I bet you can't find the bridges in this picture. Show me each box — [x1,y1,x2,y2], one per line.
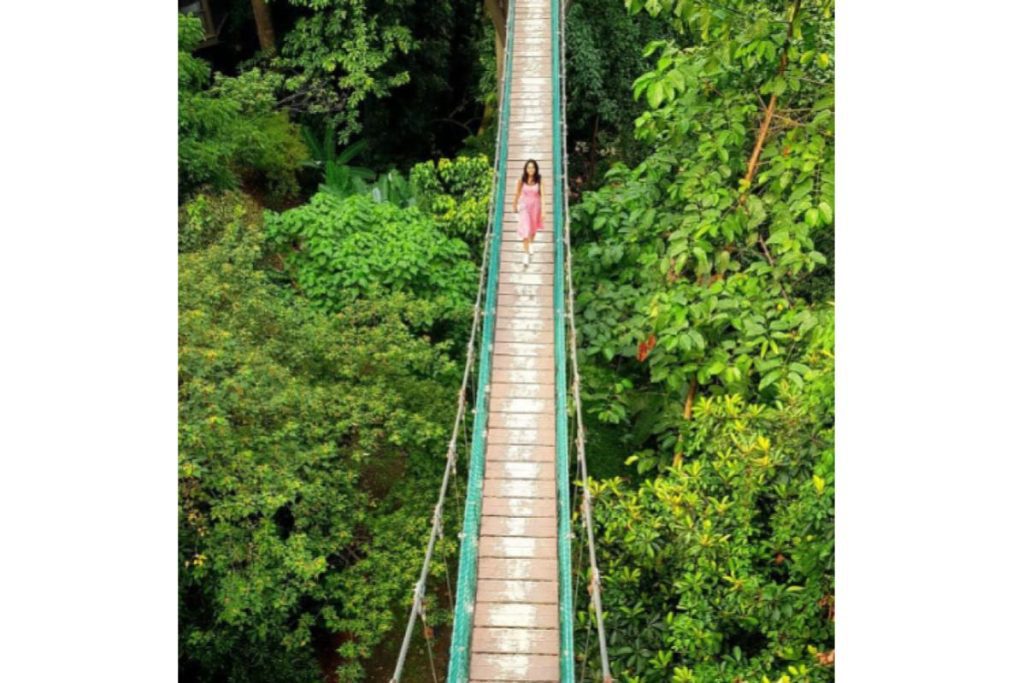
[387,0,615,683]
